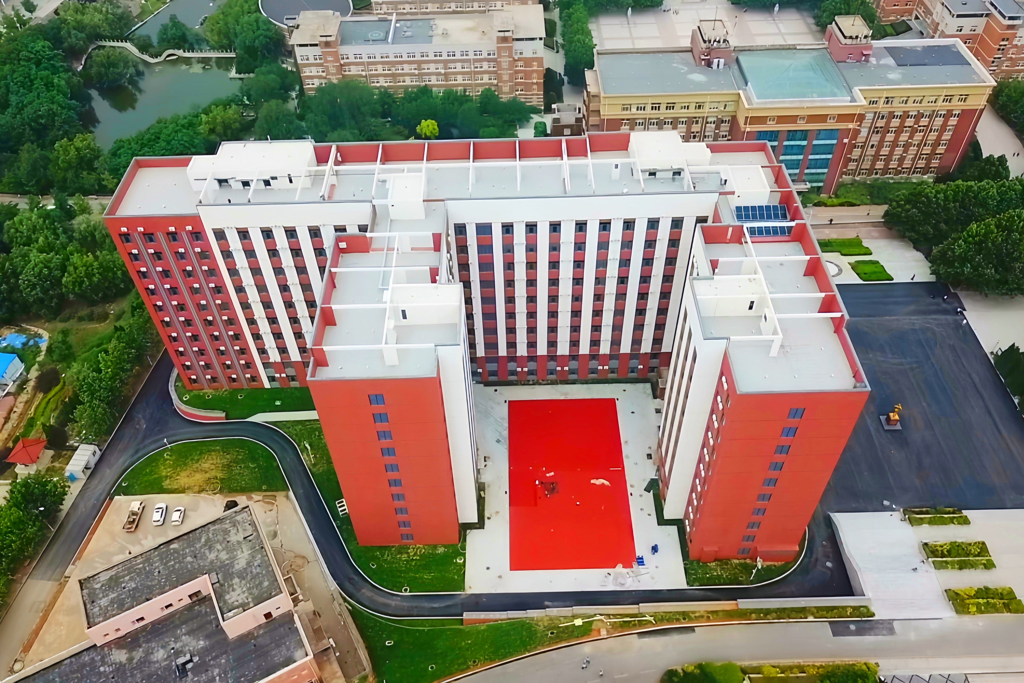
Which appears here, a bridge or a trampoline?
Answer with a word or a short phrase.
bridge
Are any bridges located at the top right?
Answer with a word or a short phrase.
No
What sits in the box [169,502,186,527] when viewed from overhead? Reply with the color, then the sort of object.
white car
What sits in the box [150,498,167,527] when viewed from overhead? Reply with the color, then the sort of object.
white car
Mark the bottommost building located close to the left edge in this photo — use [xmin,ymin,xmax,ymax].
[0,503,317,683]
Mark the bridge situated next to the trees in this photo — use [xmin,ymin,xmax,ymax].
[75,38,222,70]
